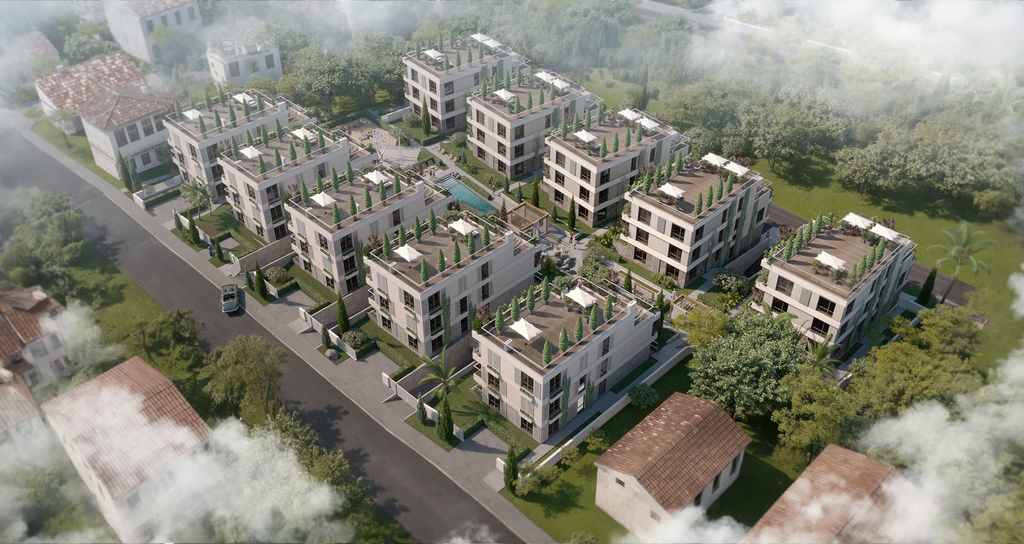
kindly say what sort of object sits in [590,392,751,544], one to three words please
house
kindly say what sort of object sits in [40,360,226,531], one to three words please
house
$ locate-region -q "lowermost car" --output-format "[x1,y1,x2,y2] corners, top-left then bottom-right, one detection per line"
[219,284,238,311]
